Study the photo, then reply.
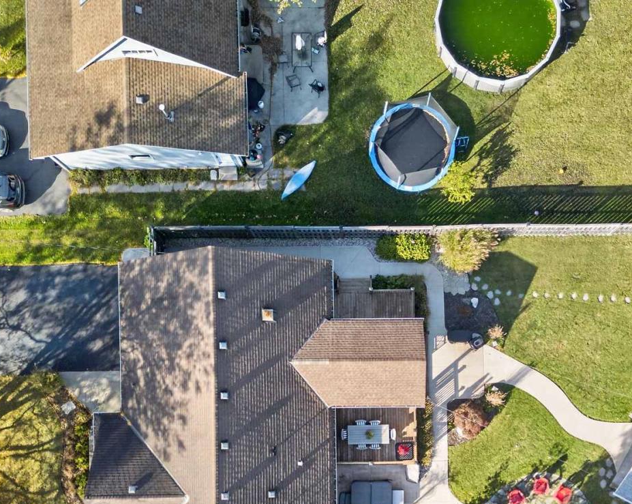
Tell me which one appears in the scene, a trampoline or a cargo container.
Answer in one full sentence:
Of the two, only a trampoline appears.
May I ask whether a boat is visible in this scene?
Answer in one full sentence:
Yes, there's a boat here.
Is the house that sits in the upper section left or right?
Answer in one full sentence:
You can find the house that sits in the upper section on the left side of the picture.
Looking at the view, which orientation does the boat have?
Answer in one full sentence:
Seen from above, the boat lies diagonally.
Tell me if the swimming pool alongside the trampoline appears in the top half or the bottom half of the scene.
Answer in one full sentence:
You can find the swimming pool alongside the trampoline in the top half.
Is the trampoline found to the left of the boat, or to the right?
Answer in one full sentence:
You can see the trampoline positioned to the right of the boat.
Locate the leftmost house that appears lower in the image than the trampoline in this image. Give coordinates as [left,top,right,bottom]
[83,245,427,504]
